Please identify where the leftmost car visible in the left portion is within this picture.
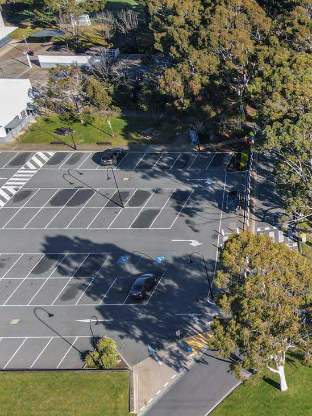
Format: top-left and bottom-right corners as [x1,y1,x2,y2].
[100,146,126,164]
